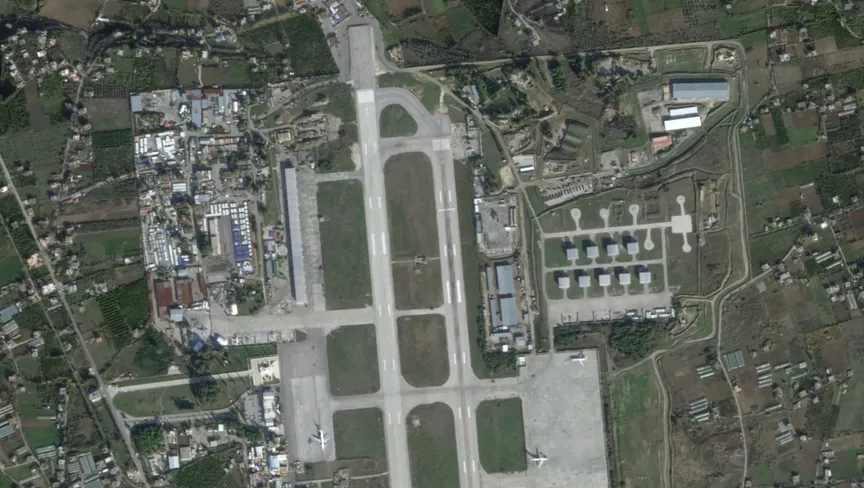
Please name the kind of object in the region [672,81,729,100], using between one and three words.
building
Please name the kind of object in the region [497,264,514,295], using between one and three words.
hangar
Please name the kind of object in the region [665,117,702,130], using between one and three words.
building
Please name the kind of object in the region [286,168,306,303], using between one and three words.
hangar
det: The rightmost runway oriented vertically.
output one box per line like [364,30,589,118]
[430,138,482,488]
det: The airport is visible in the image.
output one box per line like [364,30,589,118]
[205,26,692,488]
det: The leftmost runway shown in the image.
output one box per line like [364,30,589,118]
[354,89,411,488]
